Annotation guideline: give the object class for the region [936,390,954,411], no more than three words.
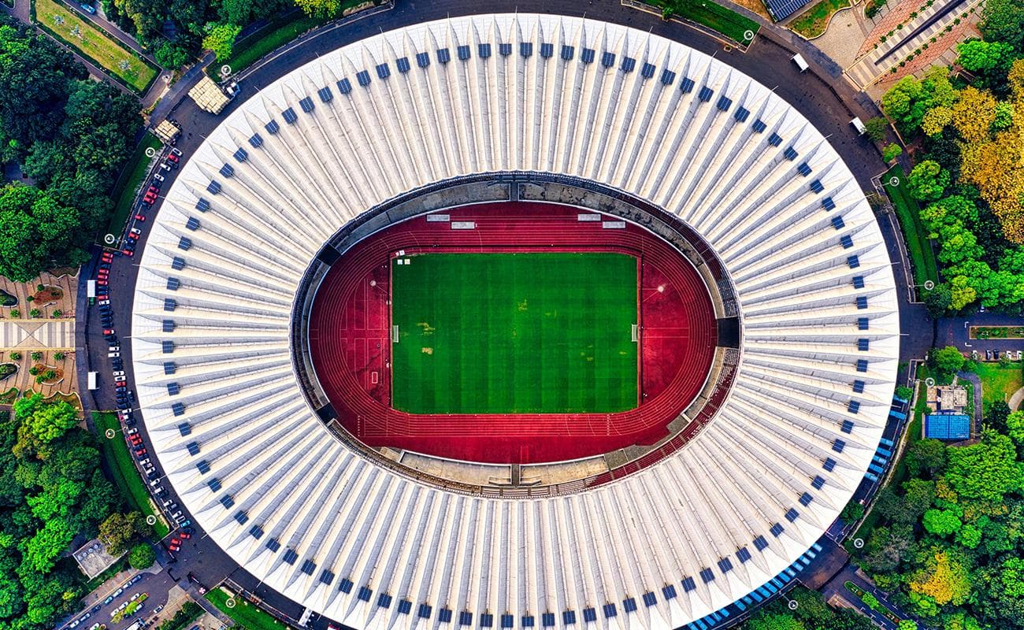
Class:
building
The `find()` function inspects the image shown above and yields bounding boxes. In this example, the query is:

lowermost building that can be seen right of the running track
[920,414,970,439]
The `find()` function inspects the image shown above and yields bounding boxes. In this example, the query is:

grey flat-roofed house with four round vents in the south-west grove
[76,535,131,579]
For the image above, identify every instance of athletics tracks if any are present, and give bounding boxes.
[310,203,717,462]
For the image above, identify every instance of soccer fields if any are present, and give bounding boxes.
[390,252,640,414]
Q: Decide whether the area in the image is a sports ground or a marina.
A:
sports ground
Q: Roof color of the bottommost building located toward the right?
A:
blue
